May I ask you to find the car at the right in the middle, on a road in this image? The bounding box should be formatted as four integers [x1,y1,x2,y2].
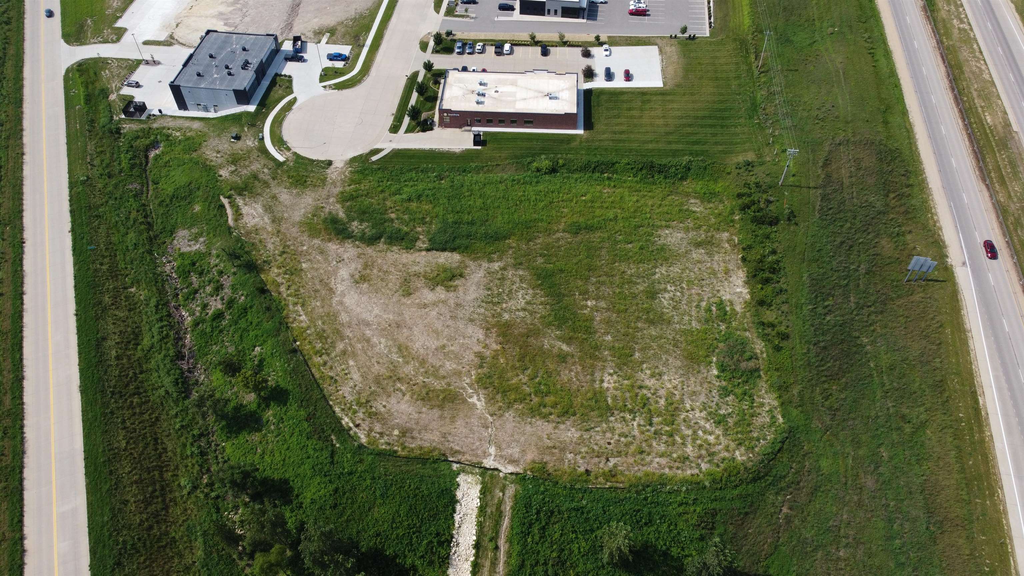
[982,240,997,258]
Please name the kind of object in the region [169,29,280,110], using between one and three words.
building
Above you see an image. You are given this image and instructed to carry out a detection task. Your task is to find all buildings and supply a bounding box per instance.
[438,68,578,131]
[169,29,280,110]
[519,0,587,19]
